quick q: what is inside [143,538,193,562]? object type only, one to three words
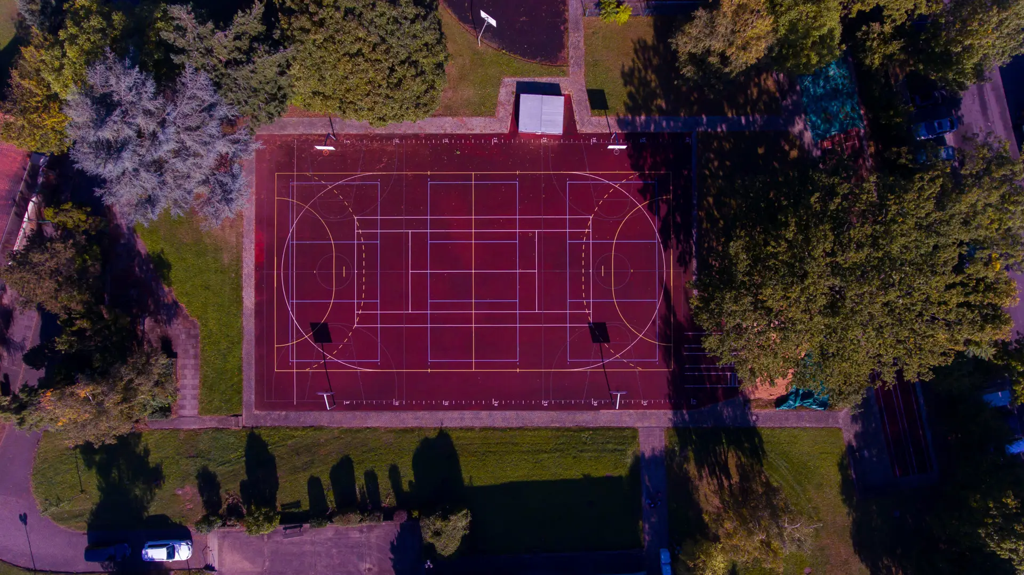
car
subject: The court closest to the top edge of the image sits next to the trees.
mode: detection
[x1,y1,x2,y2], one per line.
[444,0,568,66]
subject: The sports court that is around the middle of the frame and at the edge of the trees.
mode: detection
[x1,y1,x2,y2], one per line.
[255,95,747,410]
